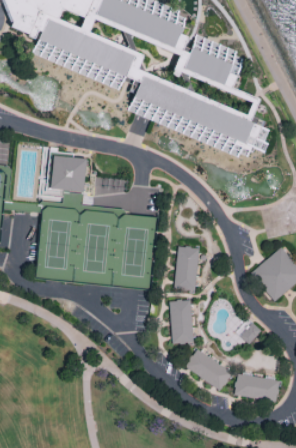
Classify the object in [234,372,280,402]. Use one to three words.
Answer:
house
